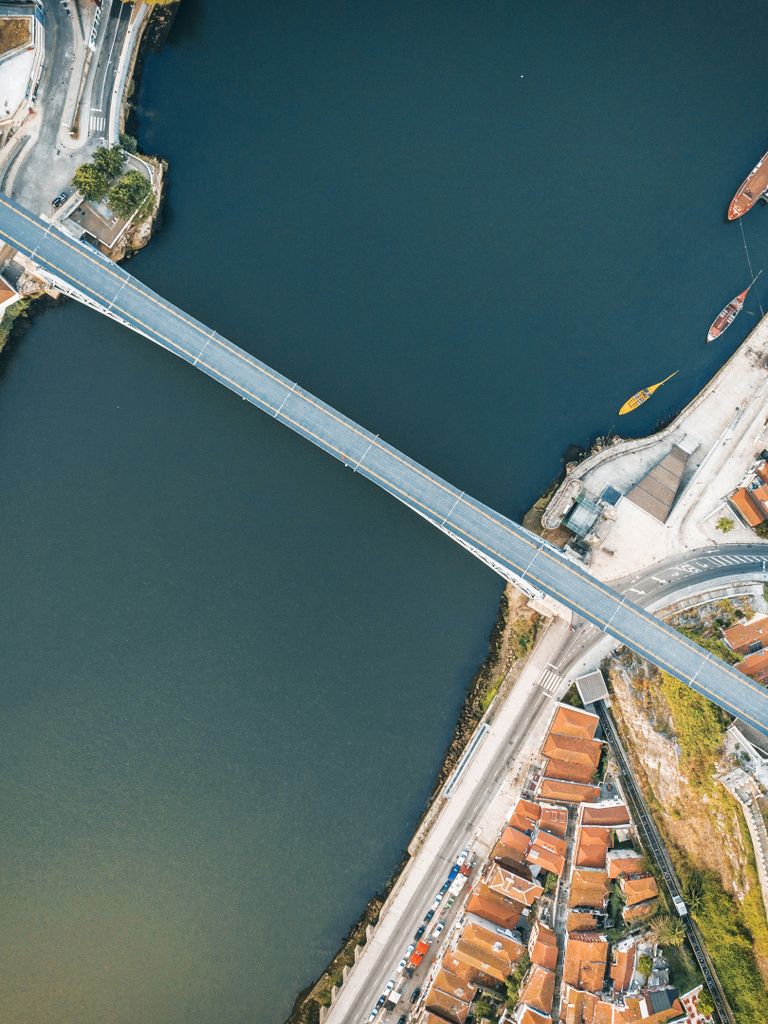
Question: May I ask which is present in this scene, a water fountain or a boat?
boat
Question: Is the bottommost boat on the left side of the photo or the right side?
right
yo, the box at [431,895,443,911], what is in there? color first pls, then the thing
white vehicle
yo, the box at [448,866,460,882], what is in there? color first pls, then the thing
blue vehicle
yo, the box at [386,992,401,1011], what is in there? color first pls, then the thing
white vehicle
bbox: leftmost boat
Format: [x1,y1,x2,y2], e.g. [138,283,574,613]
[619,370,679,415]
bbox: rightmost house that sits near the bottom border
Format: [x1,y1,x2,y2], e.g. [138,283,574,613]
[675,979,708,1024]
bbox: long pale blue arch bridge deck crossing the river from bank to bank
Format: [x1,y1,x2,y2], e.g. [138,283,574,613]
[0,192,768,737]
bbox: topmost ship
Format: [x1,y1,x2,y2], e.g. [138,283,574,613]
[725,144,768,222]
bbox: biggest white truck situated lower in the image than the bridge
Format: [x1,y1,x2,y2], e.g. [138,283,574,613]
[449,870,470,900]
